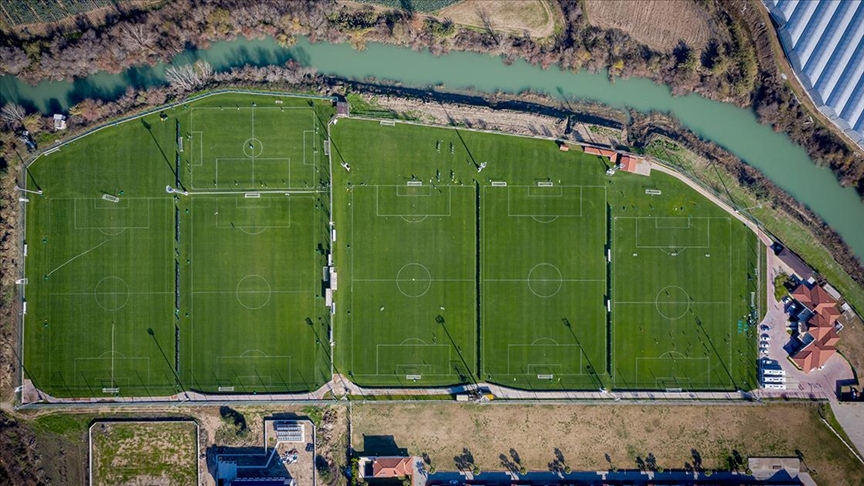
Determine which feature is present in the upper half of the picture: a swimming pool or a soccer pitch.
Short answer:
soccer pitch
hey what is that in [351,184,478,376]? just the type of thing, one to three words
soccer field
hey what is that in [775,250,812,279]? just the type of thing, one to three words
shed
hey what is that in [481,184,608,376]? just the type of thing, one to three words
soccer field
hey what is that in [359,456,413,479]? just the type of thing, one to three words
house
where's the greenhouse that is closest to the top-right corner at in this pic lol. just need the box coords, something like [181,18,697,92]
[764,0,864,150]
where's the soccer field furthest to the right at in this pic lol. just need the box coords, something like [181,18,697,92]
[613,215,733,392]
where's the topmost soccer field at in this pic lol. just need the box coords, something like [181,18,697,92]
[189,105,318,191]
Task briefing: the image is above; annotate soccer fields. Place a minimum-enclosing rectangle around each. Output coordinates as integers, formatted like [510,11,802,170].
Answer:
[189,105,318,191]
[48,197,175,391]
[190,196,317,391]
[351,184,478,376]
[481,184,608,376]
[613,215,733,392]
